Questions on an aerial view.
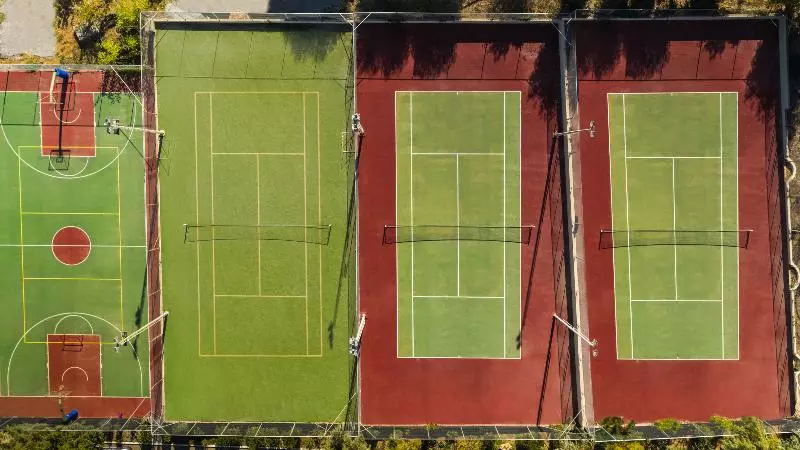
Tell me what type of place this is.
sports ground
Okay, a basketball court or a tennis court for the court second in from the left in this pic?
tennis court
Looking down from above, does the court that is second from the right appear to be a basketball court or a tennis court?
tennis court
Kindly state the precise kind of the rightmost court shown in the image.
tennis court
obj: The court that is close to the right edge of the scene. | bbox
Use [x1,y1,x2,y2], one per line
[564,18,797,427]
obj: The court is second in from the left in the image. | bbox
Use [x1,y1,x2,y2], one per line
[156,24,360,423]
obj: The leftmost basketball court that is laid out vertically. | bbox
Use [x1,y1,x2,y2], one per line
[0,69,162,425]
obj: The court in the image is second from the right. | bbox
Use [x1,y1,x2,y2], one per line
[357,22,580,425]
